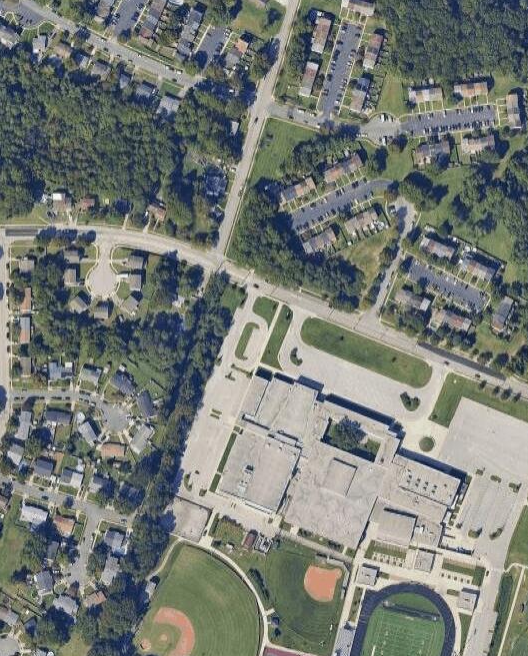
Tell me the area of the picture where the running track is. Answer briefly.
bottom right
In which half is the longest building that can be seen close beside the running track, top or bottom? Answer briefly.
bottom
